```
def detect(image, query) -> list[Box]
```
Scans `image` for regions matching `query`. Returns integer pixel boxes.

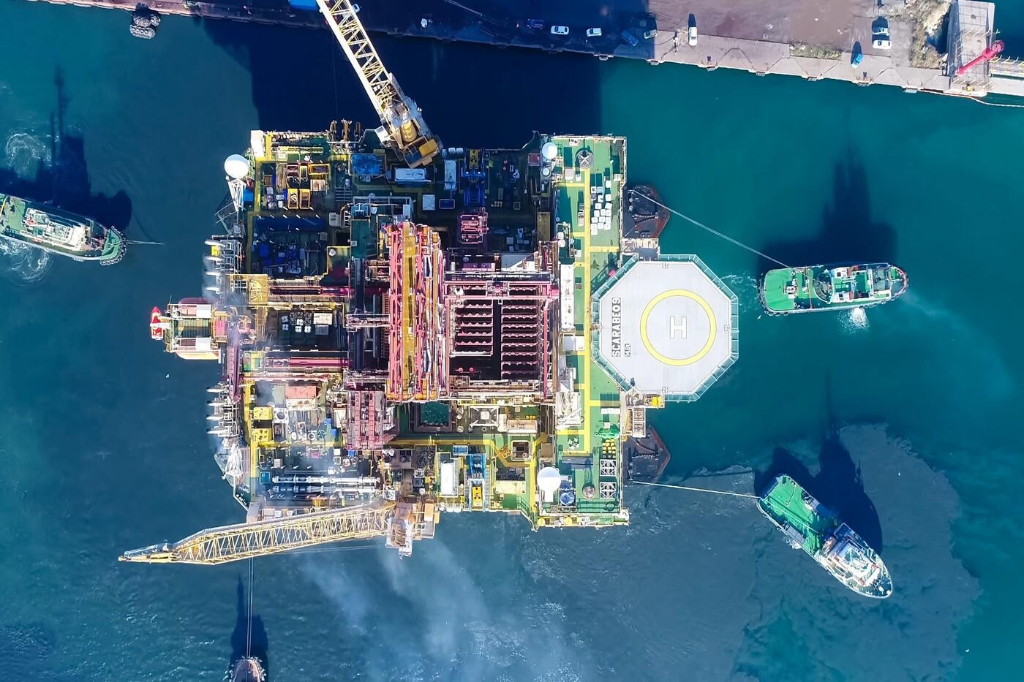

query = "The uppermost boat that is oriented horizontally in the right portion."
[758,260,914,317]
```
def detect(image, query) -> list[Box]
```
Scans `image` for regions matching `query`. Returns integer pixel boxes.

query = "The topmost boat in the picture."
[0,191,124,264]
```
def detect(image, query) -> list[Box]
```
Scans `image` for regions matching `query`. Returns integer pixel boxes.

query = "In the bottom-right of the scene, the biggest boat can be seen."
[754,468,897,602]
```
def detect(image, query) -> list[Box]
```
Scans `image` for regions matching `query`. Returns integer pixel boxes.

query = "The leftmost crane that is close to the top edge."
[315,0,442,170]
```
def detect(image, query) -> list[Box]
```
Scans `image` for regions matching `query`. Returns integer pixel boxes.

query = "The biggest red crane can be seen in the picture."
[952,39,1007,77]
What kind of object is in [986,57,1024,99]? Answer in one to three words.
pier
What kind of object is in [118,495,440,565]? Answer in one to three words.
crane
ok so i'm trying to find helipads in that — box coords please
[590,240,739,439]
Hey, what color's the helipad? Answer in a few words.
white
